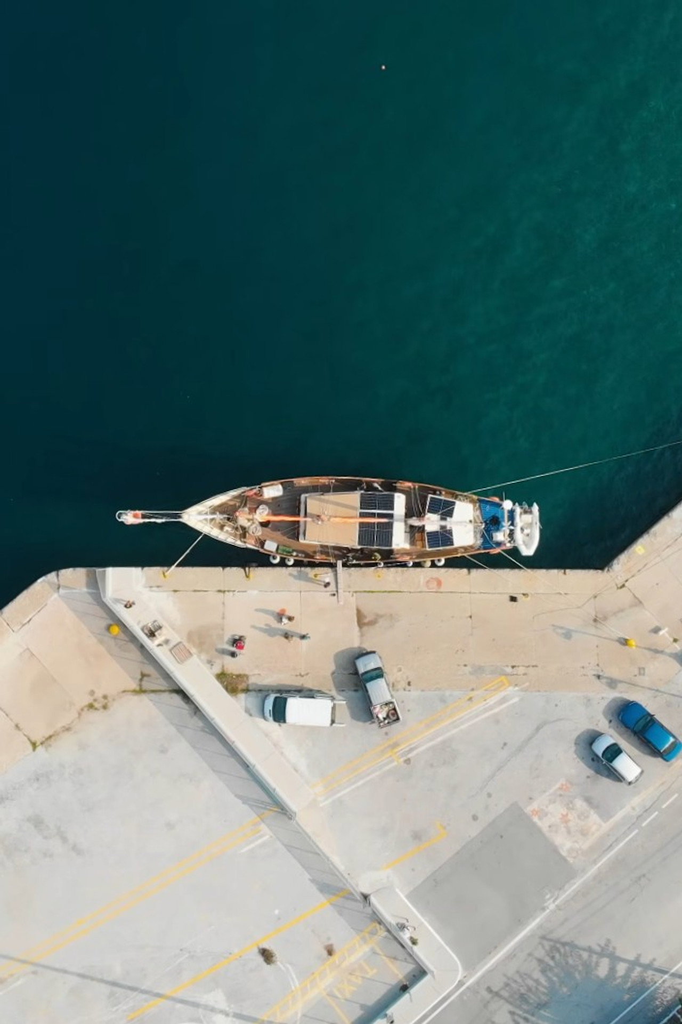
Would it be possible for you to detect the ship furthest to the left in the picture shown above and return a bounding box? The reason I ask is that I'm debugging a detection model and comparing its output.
[116,475,521,568]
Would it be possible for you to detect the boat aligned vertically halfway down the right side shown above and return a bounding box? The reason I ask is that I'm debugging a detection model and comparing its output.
[514,501,541,556]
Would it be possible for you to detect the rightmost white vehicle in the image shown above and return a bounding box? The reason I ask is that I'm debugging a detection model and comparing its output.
[590,731,644,785]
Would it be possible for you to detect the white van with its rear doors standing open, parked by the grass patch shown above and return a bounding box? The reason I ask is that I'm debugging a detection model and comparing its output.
[263,690,347,727]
